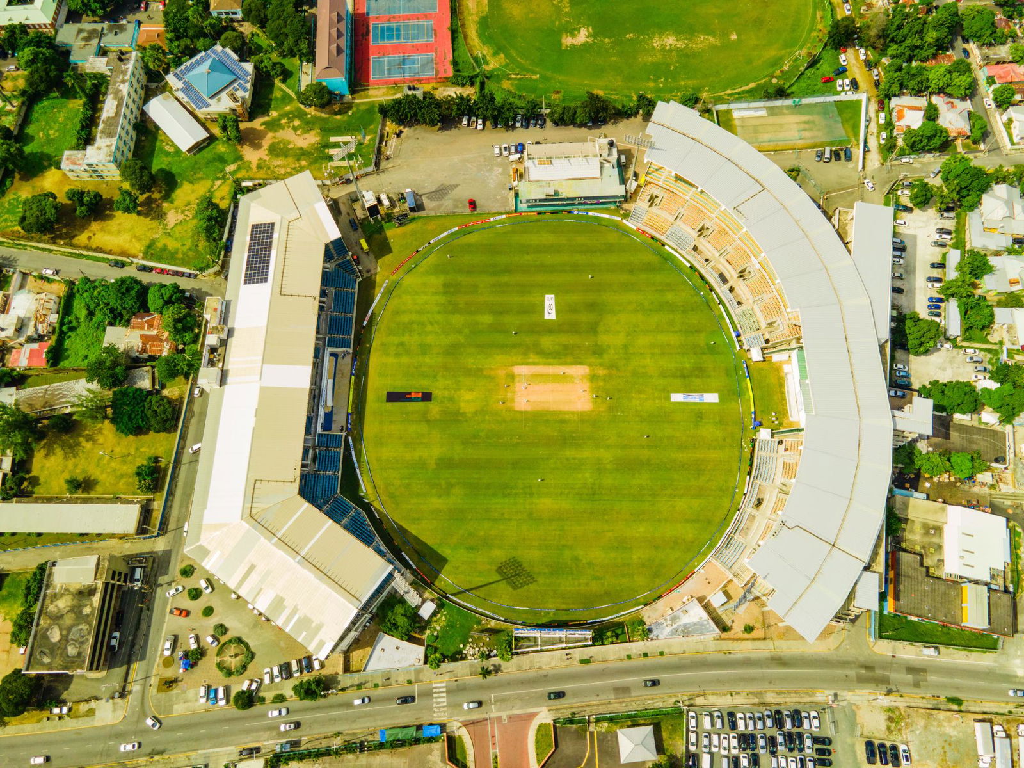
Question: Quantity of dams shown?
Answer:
0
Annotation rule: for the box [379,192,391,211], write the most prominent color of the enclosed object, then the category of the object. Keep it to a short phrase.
white vehicle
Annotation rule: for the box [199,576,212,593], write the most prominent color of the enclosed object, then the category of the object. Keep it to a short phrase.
white vehicle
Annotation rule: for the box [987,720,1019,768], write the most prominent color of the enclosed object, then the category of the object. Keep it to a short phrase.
white truck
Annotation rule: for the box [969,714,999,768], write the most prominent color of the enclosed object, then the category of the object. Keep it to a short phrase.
white truck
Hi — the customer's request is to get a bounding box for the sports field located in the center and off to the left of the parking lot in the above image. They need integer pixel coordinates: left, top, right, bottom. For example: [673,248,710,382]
[359,219,744,610]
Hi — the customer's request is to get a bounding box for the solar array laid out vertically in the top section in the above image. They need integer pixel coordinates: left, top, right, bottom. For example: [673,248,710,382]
[245,220,274,286]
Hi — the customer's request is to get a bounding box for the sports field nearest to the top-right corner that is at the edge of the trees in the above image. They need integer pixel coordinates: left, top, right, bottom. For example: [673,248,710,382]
[474,0,830,95]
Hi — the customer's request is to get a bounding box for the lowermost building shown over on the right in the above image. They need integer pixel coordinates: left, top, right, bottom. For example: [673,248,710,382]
[618,727,657,763]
